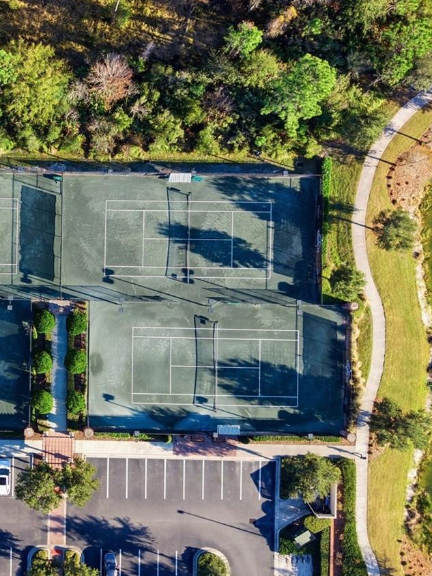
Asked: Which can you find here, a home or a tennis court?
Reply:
tennis court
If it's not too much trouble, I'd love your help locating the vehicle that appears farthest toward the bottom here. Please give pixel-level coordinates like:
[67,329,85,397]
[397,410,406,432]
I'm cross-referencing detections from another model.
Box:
[103,553,121,576]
